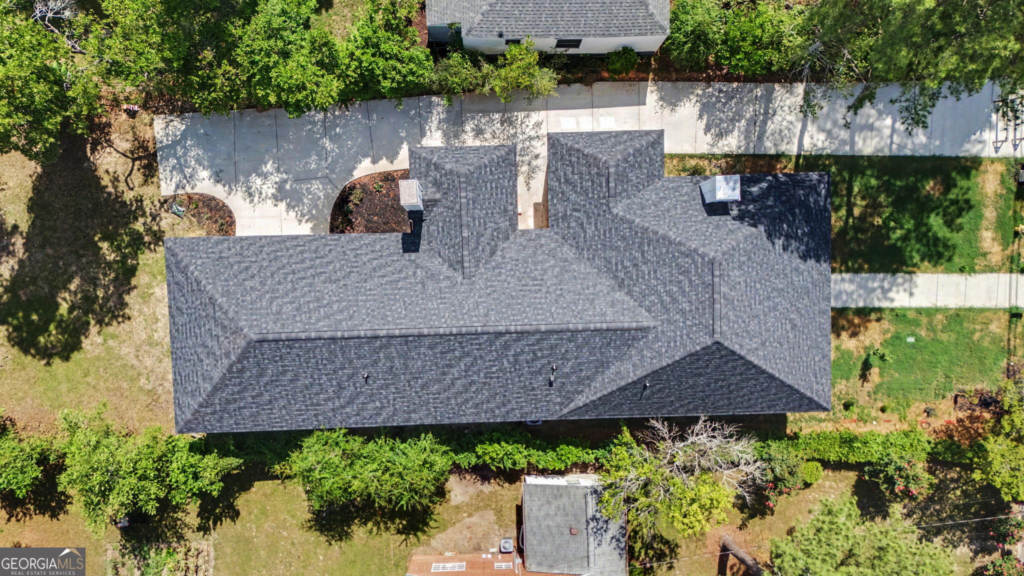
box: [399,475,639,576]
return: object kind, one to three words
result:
house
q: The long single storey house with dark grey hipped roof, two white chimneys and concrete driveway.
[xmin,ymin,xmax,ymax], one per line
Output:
[163,128,831,435]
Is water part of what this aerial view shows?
No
